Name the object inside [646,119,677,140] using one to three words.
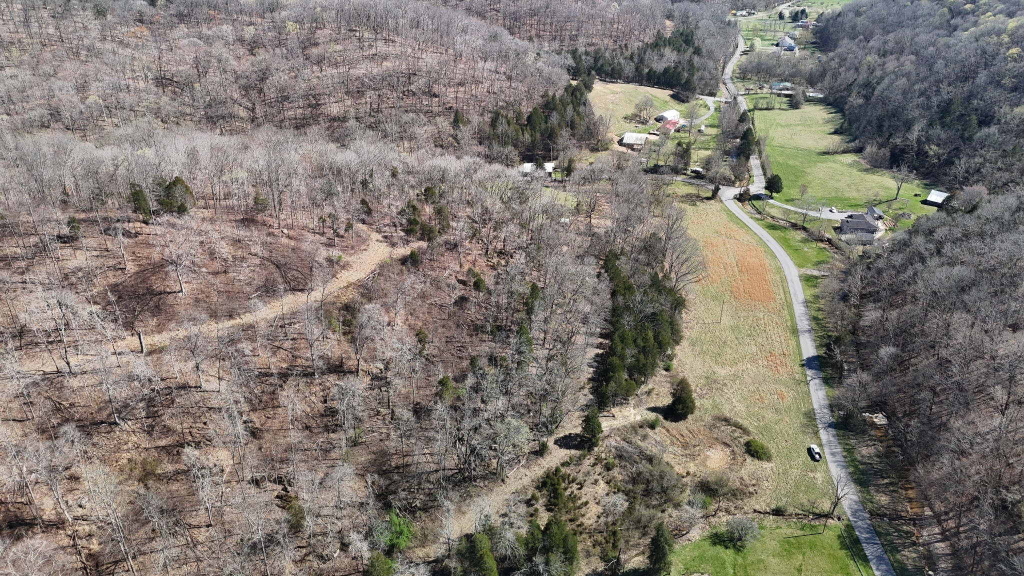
barn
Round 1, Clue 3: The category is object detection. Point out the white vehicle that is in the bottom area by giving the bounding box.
[809,443,824,461]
